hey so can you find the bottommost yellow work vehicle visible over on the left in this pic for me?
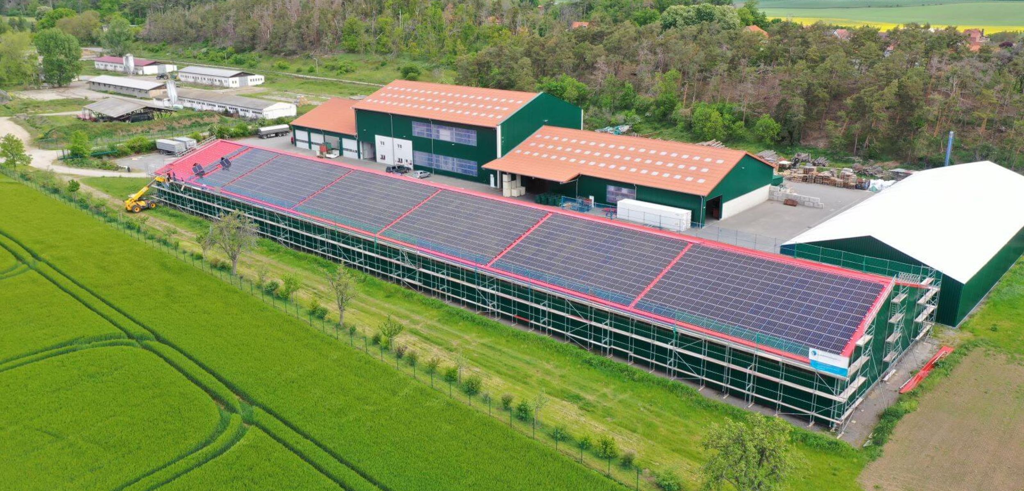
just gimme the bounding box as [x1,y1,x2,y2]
[120,173,166,213]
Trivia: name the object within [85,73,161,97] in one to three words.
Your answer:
shed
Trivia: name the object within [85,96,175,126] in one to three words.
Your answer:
barn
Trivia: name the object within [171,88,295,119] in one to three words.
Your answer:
shed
